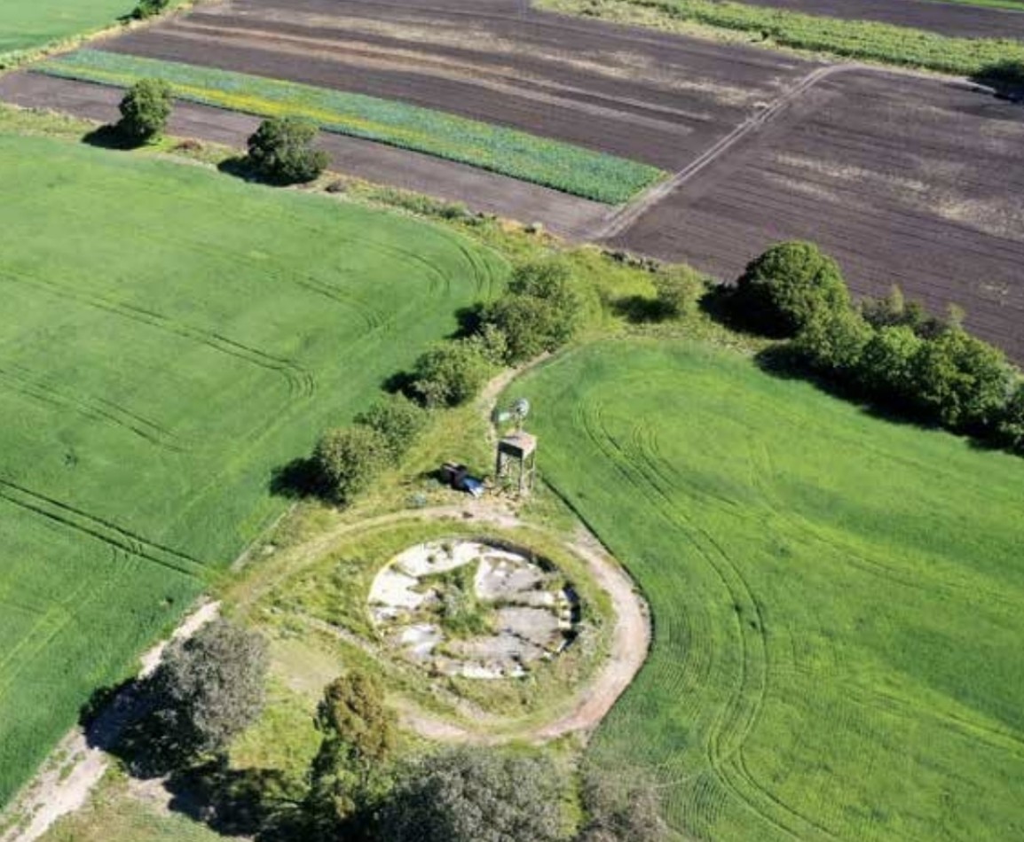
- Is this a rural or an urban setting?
rural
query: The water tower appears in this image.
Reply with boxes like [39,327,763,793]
[496,428,537,495]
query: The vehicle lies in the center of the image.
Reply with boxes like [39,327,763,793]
[437,466,484,498]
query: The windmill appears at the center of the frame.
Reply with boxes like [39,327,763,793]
[503,400,531,439]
